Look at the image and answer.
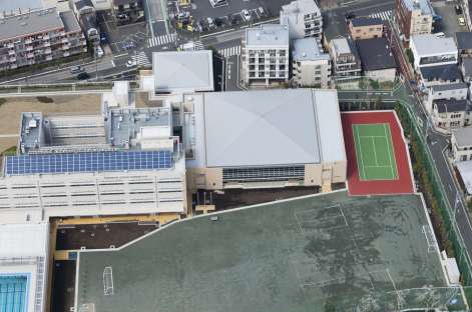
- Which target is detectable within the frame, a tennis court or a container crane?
tennis court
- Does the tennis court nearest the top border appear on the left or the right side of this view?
right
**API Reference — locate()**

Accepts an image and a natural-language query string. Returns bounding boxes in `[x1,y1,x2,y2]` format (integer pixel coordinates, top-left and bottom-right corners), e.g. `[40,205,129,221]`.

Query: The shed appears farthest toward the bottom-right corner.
[443,258,460,286]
